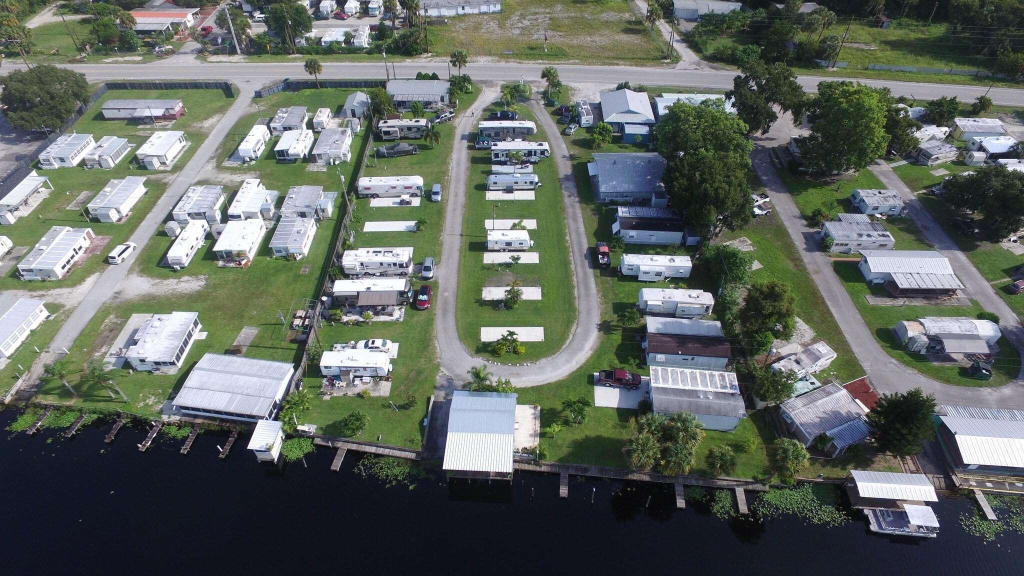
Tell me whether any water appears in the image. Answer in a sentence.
Yes, there is water in the image.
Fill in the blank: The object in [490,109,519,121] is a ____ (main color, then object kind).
black vehicle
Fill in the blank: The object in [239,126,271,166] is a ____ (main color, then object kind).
white trailer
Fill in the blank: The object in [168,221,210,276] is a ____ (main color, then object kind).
white trailer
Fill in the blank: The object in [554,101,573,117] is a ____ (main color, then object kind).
black car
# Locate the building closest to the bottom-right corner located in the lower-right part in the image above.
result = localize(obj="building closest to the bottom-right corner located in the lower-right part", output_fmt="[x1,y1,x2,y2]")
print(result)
[934,405,1024,477]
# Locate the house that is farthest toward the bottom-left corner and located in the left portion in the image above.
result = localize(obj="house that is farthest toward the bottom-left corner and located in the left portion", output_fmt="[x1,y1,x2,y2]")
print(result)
[0,296,50,361]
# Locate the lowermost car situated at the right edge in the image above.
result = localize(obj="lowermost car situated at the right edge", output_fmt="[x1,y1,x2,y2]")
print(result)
[1003,275,1024,299]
